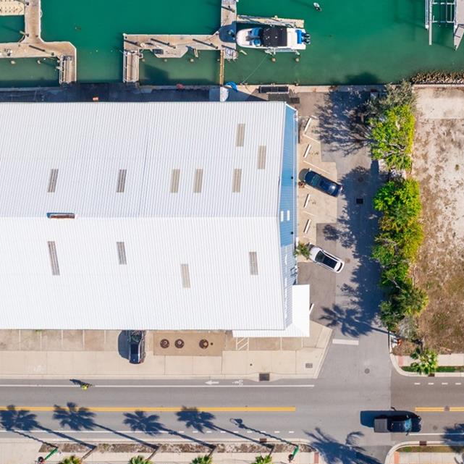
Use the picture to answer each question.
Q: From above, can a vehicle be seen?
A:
Yes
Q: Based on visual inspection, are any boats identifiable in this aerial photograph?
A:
Yes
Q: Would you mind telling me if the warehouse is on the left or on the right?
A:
left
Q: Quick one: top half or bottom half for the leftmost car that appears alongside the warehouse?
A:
bottom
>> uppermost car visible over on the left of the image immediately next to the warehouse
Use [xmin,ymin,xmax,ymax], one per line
[124,328,145,366]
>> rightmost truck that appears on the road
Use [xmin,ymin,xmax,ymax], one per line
[373,413,421,435]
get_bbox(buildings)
[0,96,311,337]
